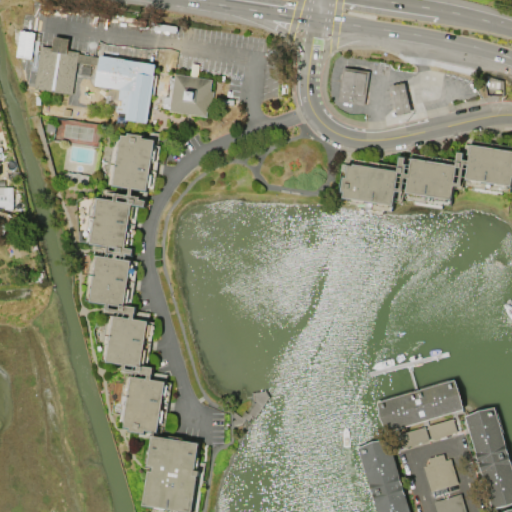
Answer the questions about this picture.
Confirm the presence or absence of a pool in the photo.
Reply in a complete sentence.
Yes, there is a pool in the image.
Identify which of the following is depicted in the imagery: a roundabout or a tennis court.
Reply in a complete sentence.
The one in the frame is a tennis court.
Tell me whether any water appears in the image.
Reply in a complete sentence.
Yes, water can be seen from above here.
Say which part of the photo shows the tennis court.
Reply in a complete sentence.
The tennis court is located in the top left region of the scene.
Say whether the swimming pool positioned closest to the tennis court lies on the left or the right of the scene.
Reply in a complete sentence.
You can find the swimming pool positioned closest to the tennis court on the left side of the picture.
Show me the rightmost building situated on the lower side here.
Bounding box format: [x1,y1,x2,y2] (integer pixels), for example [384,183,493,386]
[464,406,512,509]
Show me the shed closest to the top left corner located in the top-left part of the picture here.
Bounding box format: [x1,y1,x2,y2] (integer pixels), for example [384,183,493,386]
[16,30,36,60]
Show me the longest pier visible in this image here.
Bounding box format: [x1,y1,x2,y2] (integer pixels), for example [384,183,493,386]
[370,352,450,390]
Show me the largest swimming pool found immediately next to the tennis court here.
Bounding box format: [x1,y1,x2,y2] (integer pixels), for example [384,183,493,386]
[64,143,97,175]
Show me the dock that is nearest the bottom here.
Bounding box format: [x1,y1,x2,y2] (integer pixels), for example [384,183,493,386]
[244,391,270,424]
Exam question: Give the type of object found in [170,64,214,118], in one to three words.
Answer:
house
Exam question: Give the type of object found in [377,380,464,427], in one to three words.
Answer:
building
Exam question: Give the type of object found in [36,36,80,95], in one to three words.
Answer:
building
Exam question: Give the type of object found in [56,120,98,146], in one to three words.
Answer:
tennis court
